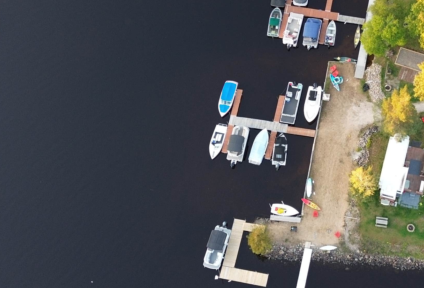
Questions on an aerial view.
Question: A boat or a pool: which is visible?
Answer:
boat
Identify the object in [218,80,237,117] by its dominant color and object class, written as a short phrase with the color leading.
blue boat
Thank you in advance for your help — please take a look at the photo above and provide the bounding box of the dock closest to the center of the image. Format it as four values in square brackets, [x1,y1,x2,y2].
[221,89,316,162]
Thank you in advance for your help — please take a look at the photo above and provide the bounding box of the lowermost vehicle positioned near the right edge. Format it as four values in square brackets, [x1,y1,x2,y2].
[378,135,411,202]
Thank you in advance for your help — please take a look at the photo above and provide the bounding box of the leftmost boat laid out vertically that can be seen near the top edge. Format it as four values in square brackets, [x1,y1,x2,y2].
[268,7,281,40]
